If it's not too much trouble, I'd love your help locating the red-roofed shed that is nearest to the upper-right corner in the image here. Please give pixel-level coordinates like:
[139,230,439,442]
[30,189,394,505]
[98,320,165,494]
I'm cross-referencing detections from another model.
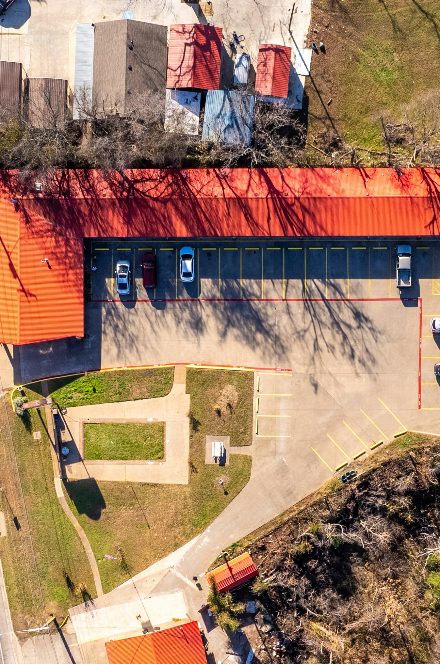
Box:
[255,44,291,102]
